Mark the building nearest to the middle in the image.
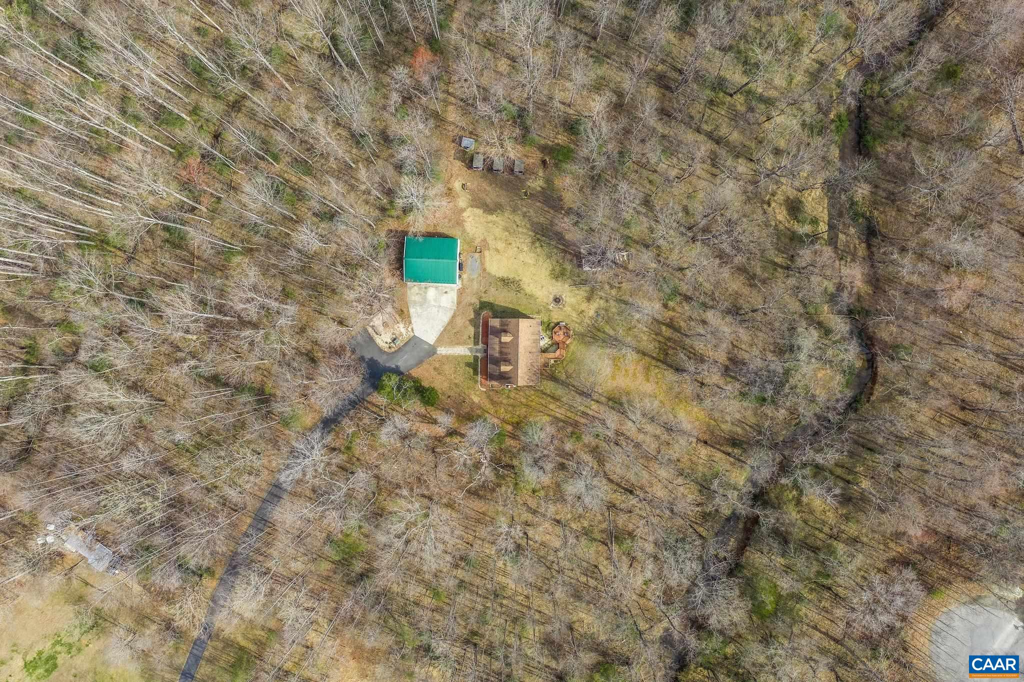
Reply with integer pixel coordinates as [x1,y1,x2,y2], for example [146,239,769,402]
[484,317,542,391]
